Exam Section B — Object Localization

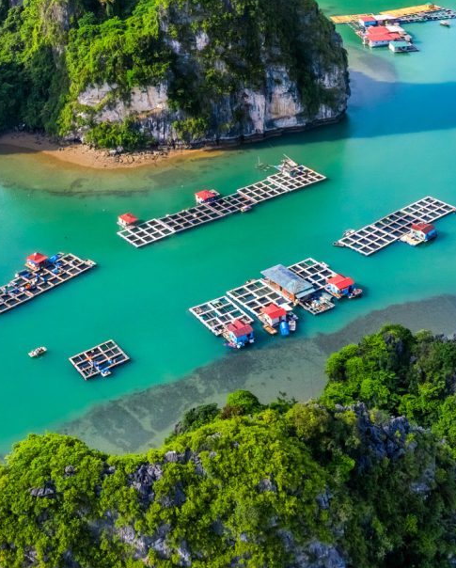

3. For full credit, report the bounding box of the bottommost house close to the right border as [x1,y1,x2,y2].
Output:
[402,221,436,247]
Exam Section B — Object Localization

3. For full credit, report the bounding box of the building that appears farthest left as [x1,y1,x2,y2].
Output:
[21,250,47,273]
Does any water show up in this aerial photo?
Yes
